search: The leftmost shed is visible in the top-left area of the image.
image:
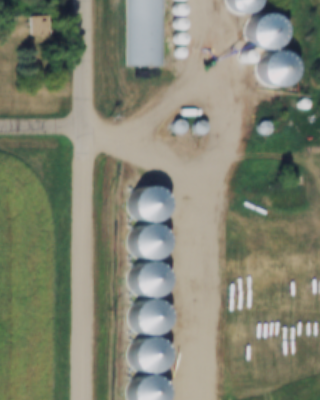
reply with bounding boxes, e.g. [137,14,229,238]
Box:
[28,16,53,36]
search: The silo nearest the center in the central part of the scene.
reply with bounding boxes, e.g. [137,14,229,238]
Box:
[127,184,175,222]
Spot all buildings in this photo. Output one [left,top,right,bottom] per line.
[122,0,164,66]
[28,16,53,36]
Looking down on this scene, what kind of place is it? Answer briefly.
industrial area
